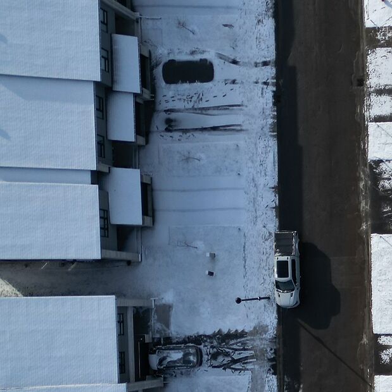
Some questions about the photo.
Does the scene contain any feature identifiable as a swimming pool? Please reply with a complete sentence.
No, there isn't any swimming pool down there.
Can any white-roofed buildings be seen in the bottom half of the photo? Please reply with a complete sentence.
No, looking in the bottom half of the photo, there is no white-roofed building.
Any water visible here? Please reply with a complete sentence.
No, water can't be seen anywhere here.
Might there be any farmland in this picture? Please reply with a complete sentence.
No, there is no farmland in the image.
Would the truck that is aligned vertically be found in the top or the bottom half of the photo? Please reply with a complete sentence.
You can find the truck that is aligned vertically in the bottom half.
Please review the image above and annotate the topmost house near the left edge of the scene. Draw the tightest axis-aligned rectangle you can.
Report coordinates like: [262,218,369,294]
[0,0,154,106]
